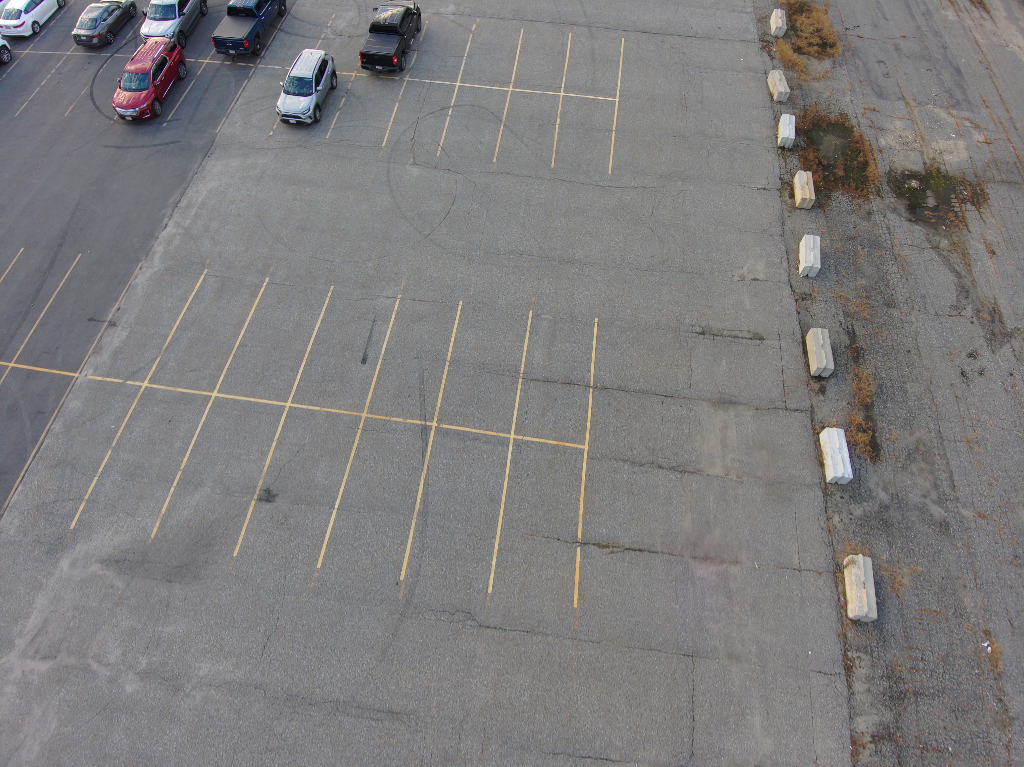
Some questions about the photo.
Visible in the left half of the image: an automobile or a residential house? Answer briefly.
automobile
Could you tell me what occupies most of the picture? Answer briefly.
paved ground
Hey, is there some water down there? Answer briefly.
No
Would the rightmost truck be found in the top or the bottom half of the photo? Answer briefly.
top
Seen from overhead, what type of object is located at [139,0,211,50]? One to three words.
car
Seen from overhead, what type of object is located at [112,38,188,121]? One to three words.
car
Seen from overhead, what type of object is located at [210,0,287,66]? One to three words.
truck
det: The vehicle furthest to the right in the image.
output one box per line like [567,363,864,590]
[361,0,423,77]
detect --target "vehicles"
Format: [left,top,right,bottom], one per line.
[210,0,287,66]
[0,0,64,39]
[276,48,336,127]
[70,0,136,49]
[0,37,12,64]
[361,0,423,77]
[139,0,211,50]
[112,38,188,121]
